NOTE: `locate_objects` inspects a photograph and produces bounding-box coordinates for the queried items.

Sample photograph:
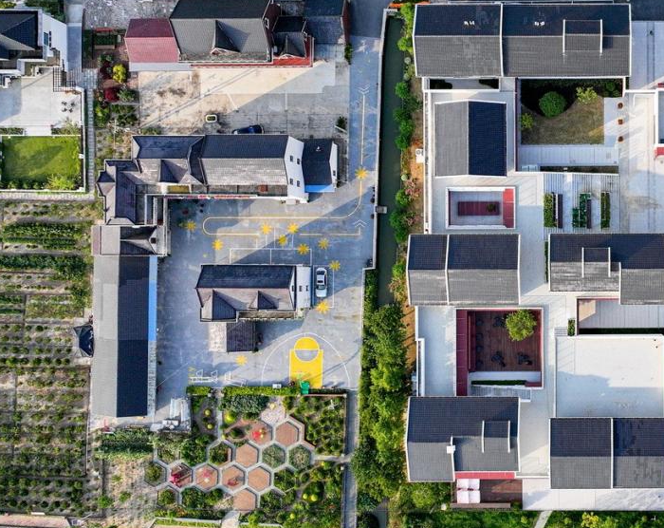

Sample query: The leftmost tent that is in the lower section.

[74,324,92,355]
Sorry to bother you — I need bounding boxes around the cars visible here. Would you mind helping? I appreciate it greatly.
[231,121,266,135]
[312,266,328,299]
